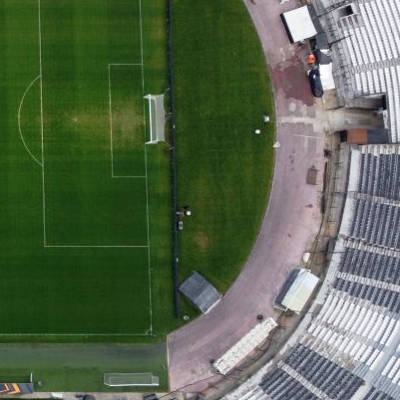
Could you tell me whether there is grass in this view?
Yes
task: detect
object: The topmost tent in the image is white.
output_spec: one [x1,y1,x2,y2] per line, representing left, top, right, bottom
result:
[273,6,316,45]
